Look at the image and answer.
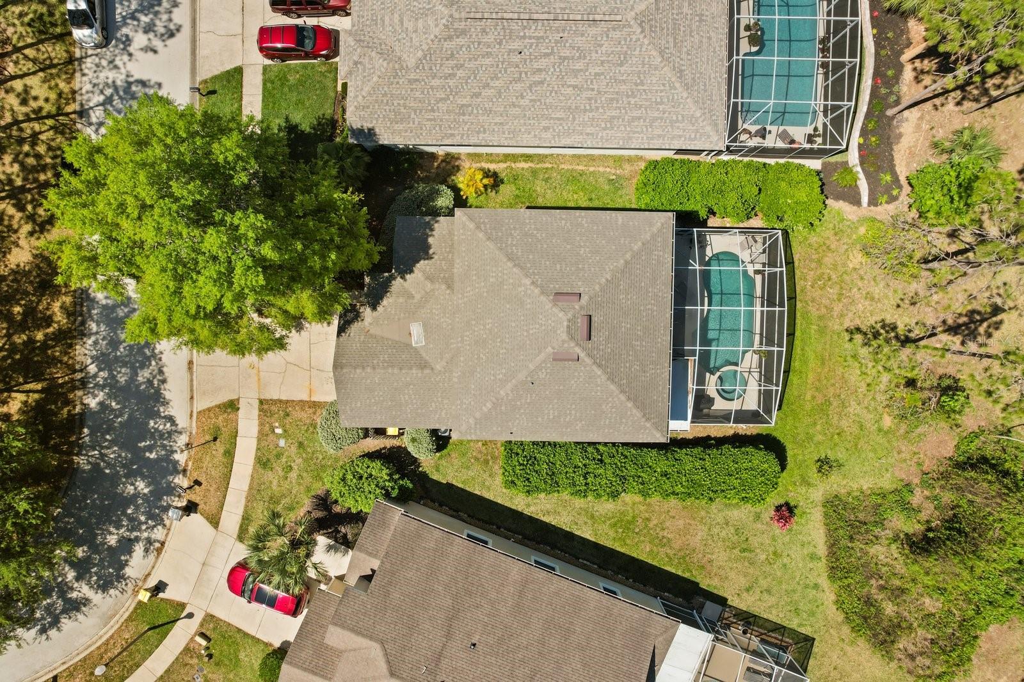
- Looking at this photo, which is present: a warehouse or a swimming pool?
swimming pool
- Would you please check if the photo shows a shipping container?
No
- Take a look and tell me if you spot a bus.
No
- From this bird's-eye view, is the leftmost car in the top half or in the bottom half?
top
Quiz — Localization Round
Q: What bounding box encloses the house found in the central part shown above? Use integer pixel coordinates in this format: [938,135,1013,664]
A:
[333,207,679,443]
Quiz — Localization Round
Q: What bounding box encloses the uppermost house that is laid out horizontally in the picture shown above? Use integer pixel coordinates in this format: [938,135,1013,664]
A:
[338,0,733,158]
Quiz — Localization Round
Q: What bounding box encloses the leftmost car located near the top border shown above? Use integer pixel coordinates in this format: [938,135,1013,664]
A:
[67,0,111,51]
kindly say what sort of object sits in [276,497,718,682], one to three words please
house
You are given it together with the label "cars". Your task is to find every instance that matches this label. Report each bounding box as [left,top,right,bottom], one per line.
[67,0,111,51]
[259,23,336,65]
[271,0,352,19]
[227,560,310,621]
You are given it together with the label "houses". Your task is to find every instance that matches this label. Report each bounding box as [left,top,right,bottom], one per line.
[333,207,679,443]
[276,497,718,682]
[338,0,733,158]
